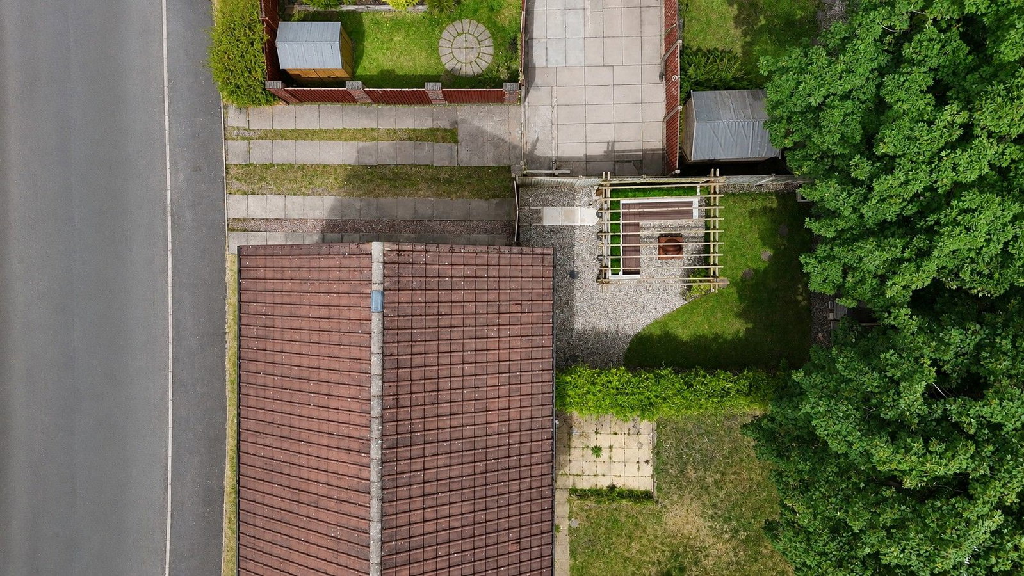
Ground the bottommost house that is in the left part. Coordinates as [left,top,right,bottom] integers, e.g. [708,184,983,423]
[235,241,557,576]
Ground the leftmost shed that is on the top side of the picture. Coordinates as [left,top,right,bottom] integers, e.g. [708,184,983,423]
[275,22,351,80]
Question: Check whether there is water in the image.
No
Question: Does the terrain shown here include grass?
Yes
